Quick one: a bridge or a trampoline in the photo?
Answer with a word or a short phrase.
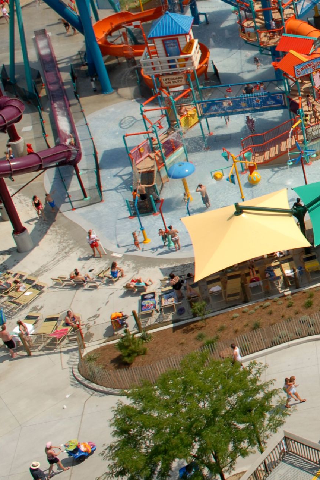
bridge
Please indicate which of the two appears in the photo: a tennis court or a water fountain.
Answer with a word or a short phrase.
water fountain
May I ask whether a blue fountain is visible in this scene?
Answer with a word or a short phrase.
Yes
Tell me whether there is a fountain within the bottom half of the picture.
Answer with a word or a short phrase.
No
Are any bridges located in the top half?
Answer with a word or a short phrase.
Yes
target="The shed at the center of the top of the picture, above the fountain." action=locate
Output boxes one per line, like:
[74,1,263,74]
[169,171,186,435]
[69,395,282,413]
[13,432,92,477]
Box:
[133,12,212,128]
